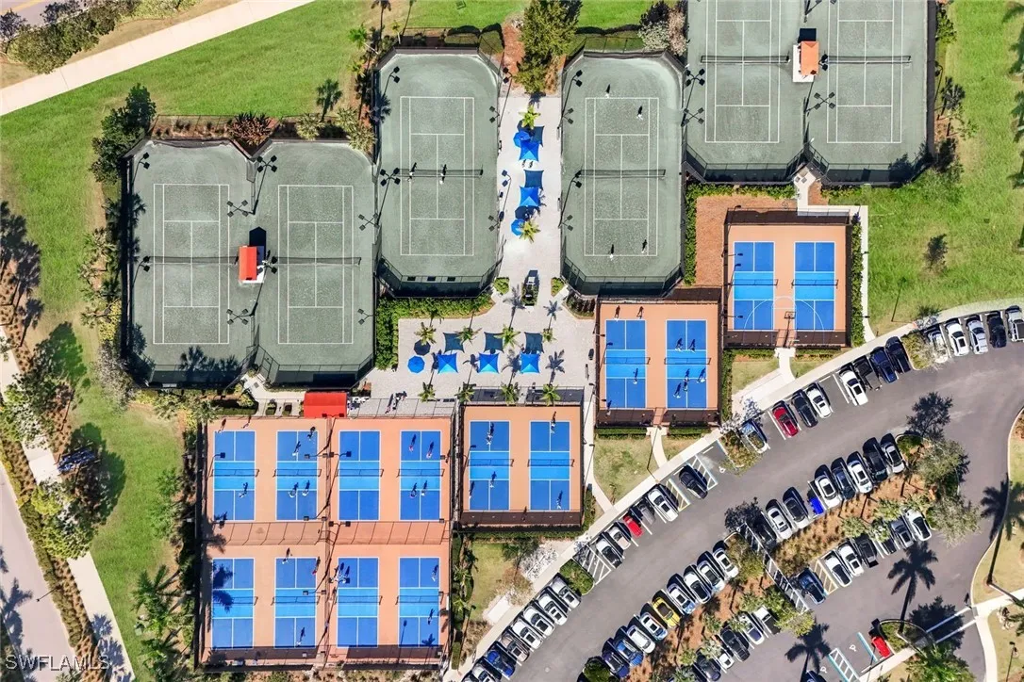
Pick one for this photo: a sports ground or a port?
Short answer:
sports ground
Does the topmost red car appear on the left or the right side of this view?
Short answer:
right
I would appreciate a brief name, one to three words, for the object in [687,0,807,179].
tennis court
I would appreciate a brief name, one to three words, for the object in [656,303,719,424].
sports court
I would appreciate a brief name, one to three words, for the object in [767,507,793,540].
car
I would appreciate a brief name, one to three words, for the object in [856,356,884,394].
vehicle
